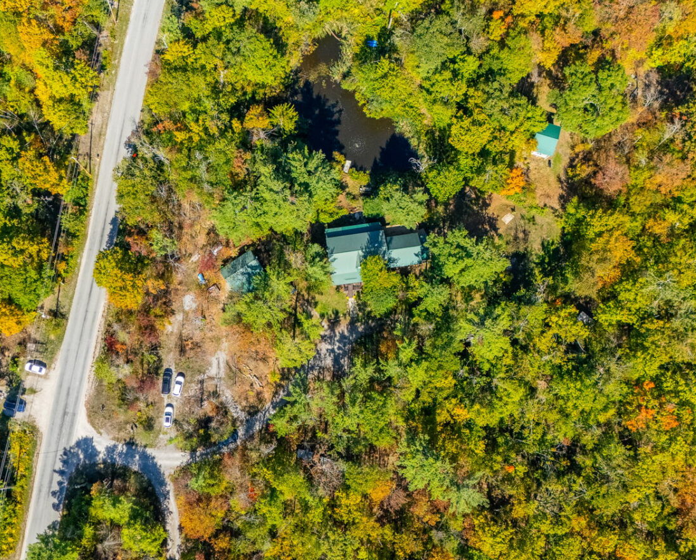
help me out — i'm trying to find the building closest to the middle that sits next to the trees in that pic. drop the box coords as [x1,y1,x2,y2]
[324,222,430,302]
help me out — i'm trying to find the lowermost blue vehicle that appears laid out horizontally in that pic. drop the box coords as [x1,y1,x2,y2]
[1,400,29,413]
